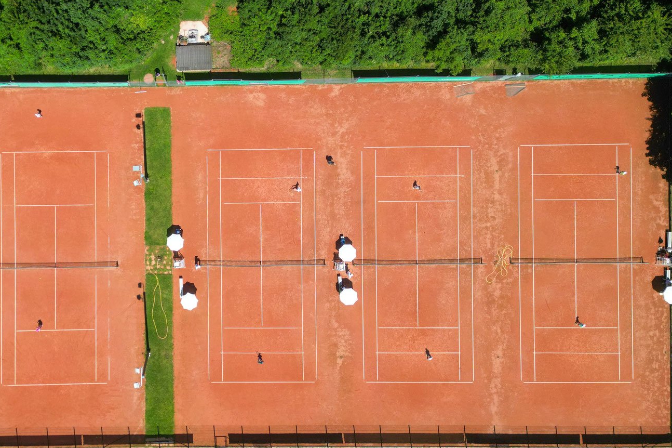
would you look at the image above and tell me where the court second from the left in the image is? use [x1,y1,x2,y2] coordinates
[159,85,341,447]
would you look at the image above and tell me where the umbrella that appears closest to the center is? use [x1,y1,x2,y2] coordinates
[339,245,355,261]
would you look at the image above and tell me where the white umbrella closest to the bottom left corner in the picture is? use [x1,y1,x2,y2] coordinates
[181,293,197,310]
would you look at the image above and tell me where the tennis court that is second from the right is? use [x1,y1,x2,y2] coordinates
[340,83,496,446]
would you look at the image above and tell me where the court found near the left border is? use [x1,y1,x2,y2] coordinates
[0,87,160,447]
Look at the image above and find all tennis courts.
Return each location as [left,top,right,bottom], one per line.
[496,81,672,446]
[0,87,160,447]
[159,85,341,447]
[340,83,496,446]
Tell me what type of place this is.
sports ground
